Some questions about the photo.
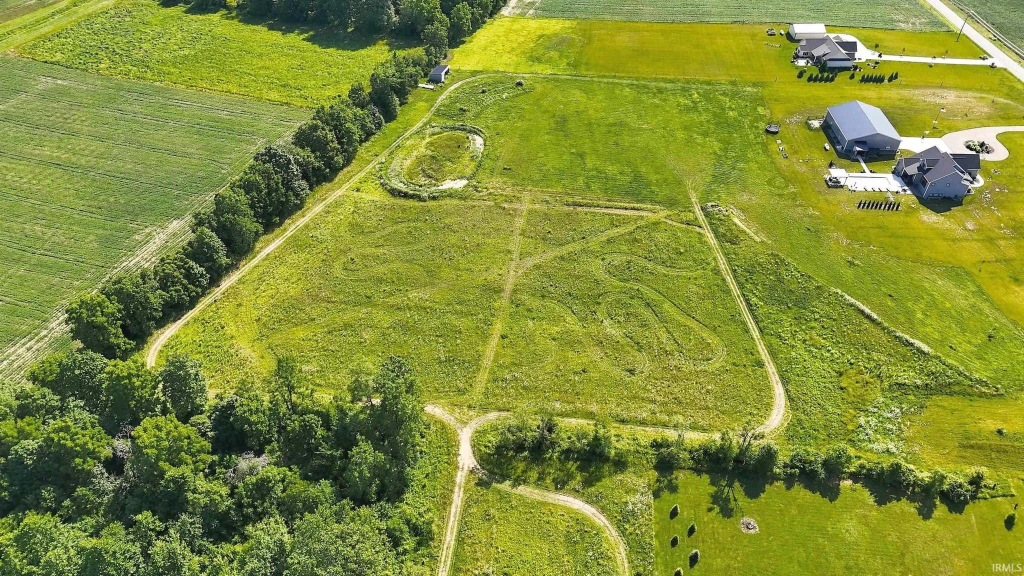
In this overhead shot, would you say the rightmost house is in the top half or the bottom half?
top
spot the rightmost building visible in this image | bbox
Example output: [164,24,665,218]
[886,139,992,198]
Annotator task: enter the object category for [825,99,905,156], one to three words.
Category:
barn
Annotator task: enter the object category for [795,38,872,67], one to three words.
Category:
house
